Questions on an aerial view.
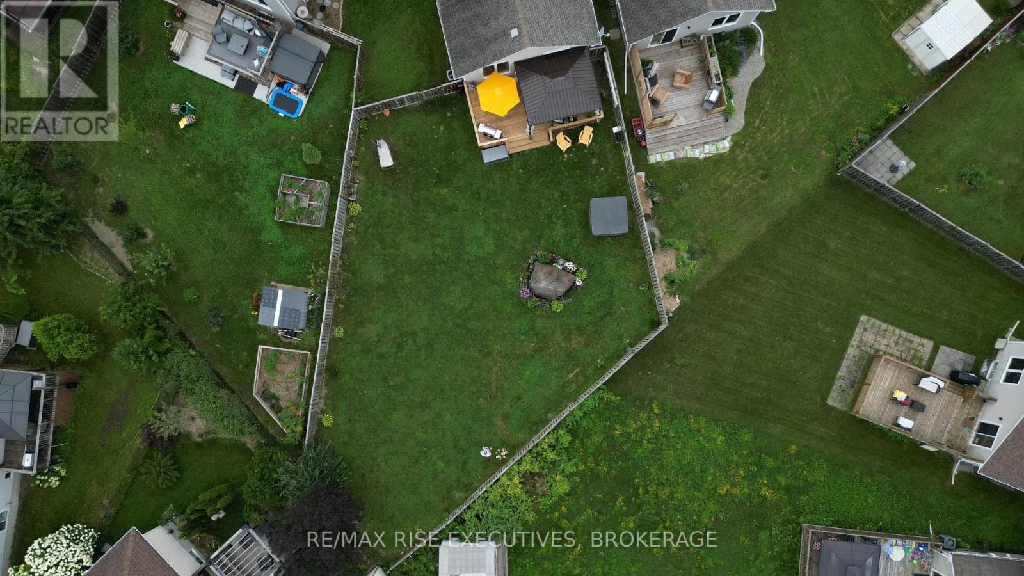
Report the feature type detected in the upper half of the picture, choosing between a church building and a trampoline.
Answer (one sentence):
Looking in the upper half of the picture, you will find a trampoline.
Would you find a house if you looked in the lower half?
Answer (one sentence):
Yes, the scene does show a house in the lower half.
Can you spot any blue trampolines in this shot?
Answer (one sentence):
Yes, the photo shows a blue trampoline.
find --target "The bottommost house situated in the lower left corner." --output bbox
[83,525,204,576]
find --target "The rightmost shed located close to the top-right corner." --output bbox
[904,0,1000,70]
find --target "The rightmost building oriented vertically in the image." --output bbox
[959,348,1024,494]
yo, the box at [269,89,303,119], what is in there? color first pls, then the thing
blue trampoline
